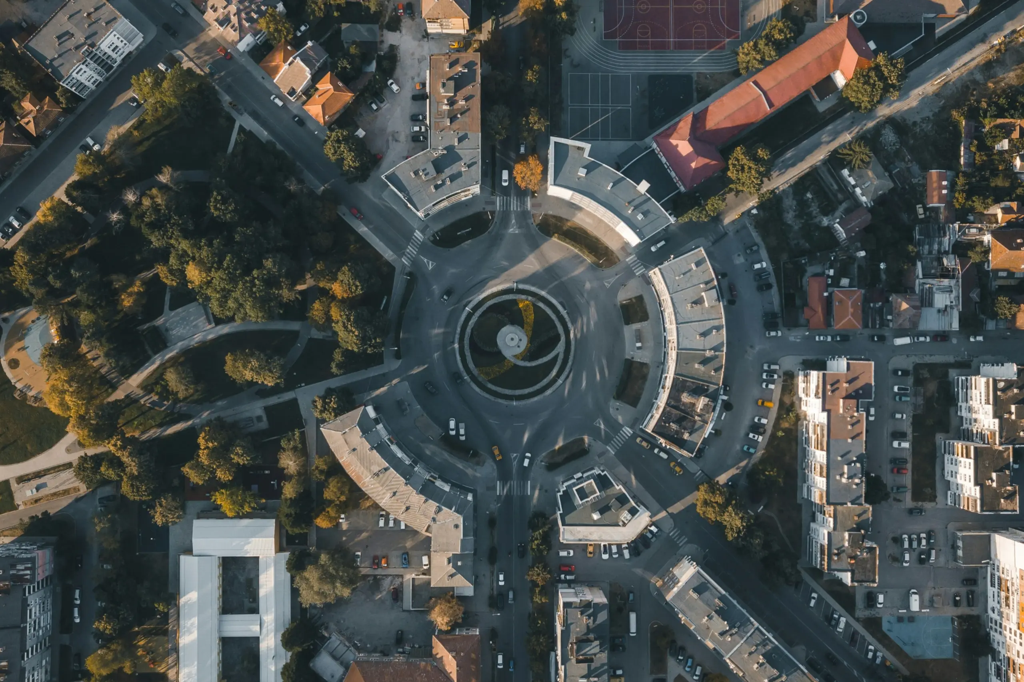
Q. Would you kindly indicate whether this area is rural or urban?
urban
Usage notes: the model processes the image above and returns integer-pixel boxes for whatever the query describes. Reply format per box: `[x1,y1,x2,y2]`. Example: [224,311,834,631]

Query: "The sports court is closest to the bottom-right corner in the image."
[882,618,953,659]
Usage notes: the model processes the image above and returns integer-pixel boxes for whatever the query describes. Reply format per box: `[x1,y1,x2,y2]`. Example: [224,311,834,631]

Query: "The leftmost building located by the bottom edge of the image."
[0,542,63,682]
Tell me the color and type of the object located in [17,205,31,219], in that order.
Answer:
black car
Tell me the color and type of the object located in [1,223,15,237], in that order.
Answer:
black car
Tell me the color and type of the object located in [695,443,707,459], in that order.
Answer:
black vehicle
